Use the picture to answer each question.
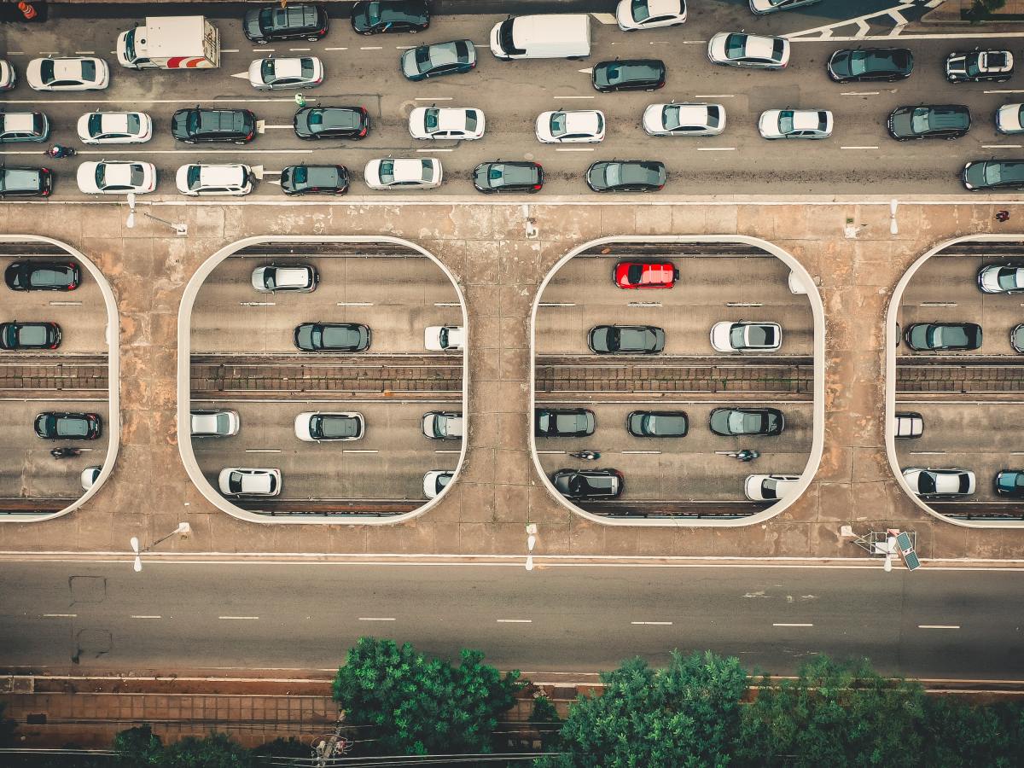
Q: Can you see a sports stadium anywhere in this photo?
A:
No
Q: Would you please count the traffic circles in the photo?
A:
none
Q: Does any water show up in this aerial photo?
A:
No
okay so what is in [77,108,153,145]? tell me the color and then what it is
white car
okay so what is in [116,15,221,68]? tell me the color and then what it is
white truck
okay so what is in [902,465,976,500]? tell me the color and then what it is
white car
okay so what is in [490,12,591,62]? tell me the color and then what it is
white van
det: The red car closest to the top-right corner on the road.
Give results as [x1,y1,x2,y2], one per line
[614,257,678,292]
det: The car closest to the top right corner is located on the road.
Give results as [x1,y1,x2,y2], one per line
[944,45,1015,84]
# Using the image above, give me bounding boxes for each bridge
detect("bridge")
[0,204,1024,562]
